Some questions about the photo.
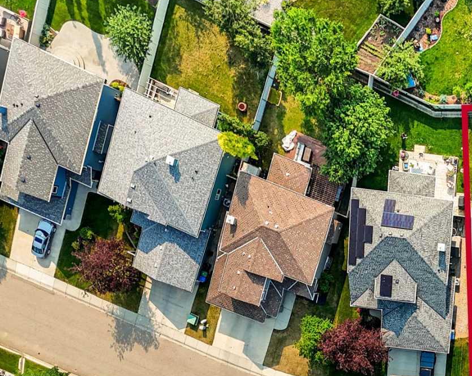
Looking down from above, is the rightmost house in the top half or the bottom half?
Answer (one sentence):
Seen from above, the rightmost house lies in the bottom half of the view.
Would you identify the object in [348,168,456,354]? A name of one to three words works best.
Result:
house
